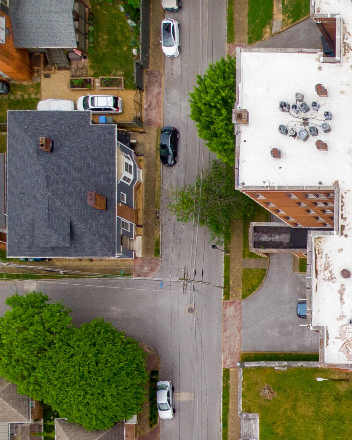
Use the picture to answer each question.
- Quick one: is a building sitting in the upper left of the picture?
Yes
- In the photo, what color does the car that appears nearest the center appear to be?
black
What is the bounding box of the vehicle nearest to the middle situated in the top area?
[159,125,180,168]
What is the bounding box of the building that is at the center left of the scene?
[0,108,153,266]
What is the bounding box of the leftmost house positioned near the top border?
[0,0,88,79]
